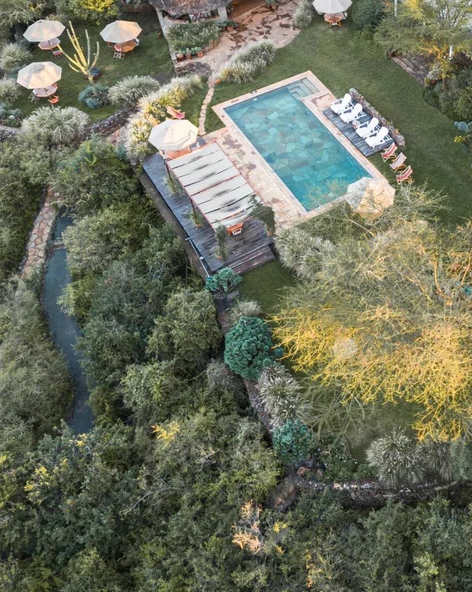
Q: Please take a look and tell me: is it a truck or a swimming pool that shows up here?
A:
swimming pool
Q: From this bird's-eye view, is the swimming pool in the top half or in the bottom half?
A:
top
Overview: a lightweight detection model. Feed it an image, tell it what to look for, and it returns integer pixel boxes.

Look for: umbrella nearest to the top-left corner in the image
[24,24,68,53]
